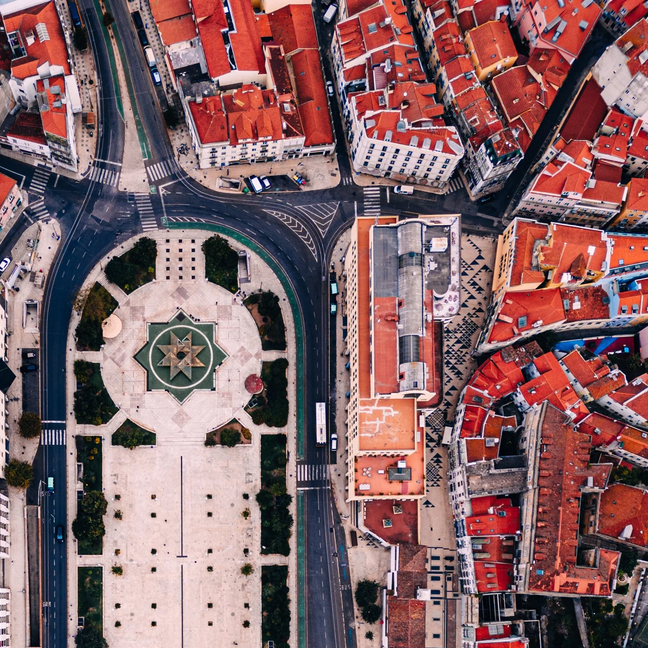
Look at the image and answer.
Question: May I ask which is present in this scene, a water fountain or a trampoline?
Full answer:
Of the two, only a water fountain appears.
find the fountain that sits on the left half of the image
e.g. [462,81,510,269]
[132,308,228,404]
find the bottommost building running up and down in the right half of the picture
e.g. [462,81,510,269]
[383,543,430,648]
